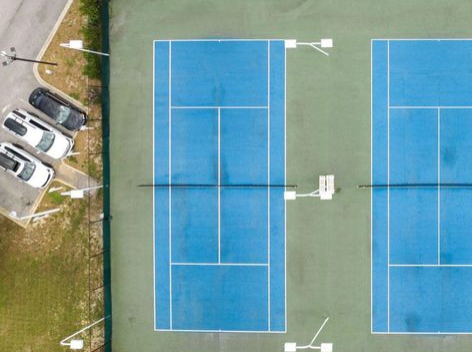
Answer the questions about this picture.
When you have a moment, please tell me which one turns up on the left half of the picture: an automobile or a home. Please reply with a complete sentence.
There is an automobile on the left half of the picture.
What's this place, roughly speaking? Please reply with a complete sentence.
It's a sports ground.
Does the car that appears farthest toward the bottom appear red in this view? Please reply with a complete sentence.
No, from above the car that appears farthest toward the bottom looks white.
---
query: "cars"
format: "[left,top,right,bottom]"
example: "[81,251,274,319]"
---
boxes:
[29,87,89,130]
[0,139,55,184]
[4,112,70,157]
